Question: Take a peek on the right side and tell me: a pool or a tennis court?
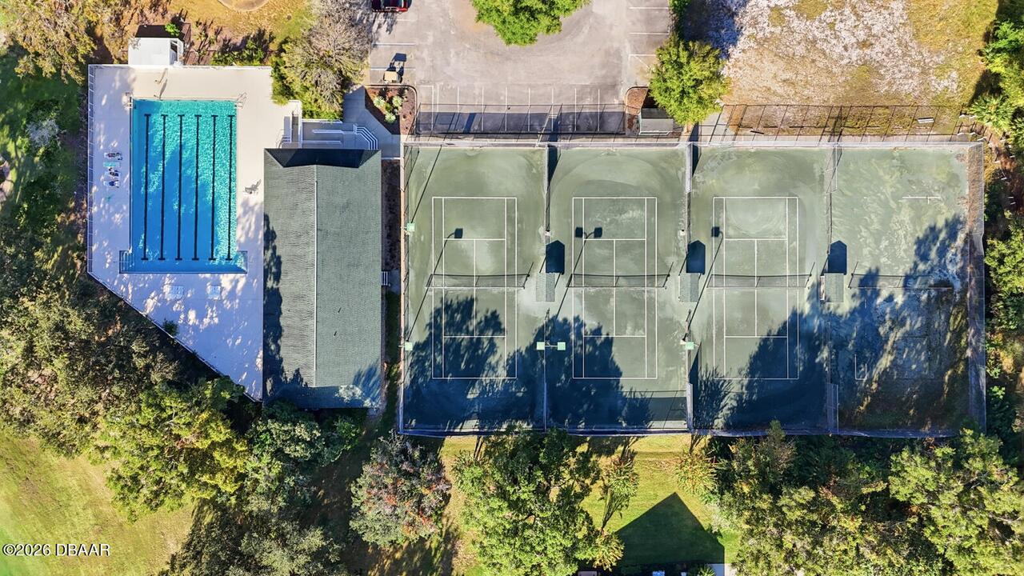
tennis court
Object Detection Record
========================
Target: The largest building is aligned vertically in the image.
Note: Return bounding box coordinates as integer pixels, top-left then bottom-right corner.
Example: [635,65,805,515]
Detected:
[266,149,382,409]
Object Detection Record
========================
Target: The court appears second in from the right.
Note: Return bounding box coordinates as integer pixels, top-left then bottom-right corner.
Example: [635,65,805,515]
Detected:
[688,146,830,430]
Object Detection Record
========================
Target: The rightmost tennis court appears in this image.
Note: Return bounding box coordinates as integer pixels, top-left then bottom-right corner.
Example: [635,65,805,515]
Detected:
[830,146,969,430]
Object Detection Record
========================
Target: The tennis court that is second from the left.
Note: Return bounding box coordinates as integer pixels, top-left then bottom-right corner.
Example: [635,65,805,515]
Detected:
[547,146,688,430]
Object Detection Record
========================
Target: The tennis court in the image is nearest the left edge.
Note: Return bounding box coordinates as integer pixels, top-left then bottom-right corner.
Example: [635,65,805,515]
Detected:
[406,146,547,430]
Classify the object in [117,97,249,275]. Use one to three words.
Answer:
swimming pool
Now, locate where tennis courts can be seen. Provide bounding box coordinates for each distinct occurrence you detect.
[547,146,688,430]
[406,146,547,430]
[830,146,969,430]
[688,146,830,430]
